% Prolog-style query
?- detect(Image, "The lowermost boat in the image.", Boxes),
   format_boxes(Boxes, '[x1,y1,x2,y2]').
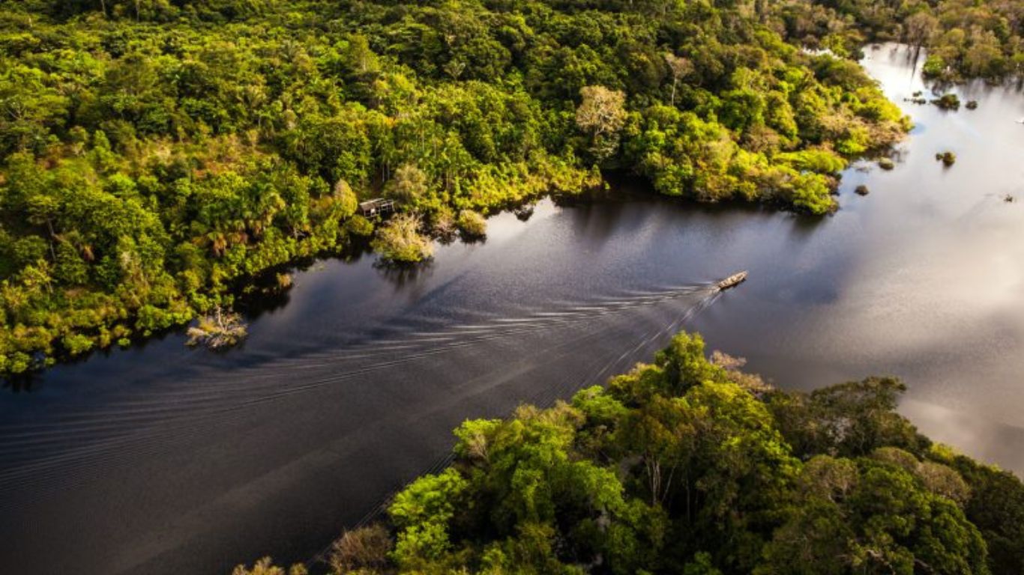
[715,270,748,292]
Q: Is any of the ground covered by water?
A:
Yes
